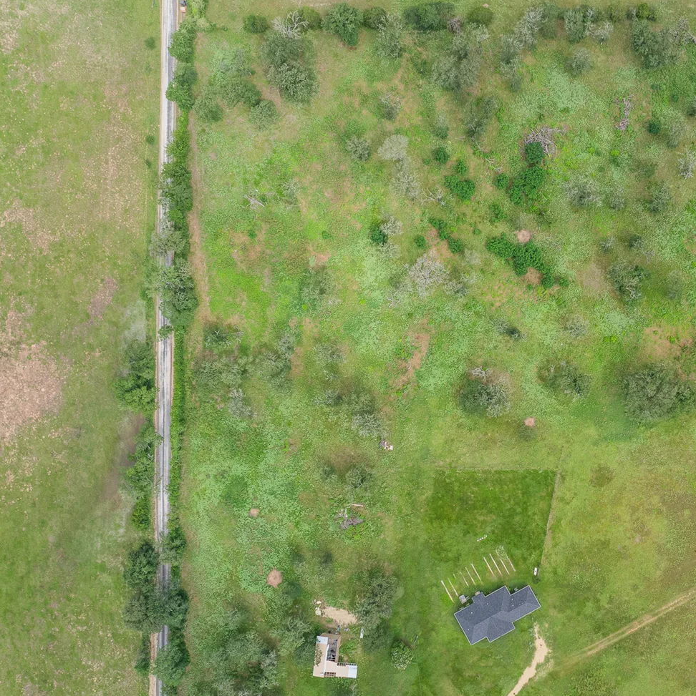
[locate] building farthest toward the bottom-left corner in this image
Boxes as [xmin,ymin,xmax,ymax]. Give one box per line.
[313,633,358,678]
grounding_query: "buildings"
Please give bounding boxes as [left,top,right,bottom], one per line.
[453,584,542,646]
[313,633,358,678]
